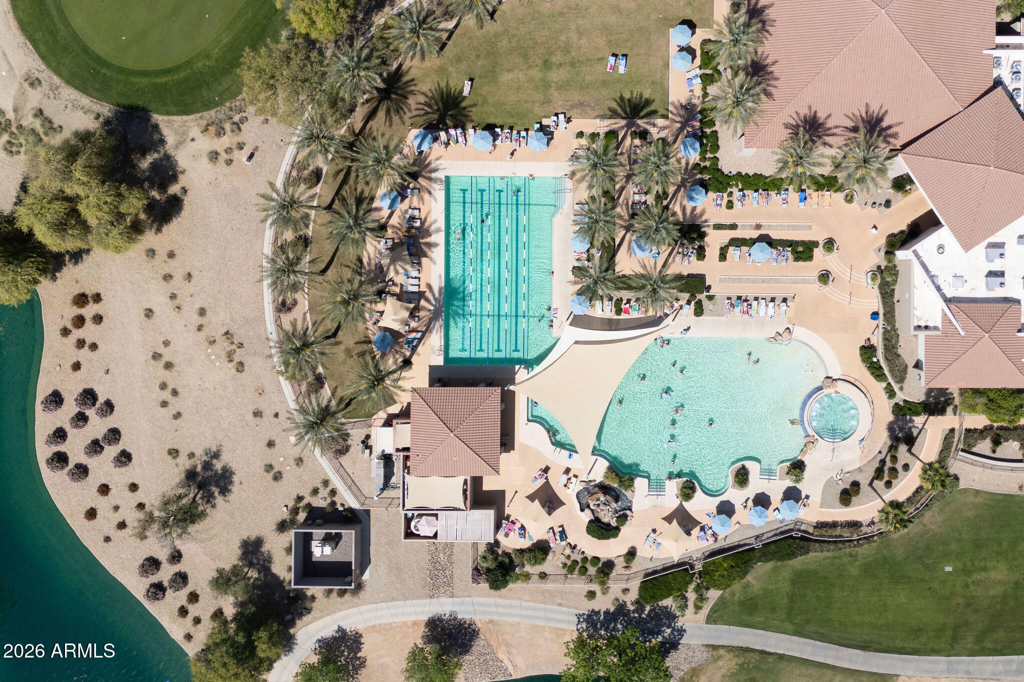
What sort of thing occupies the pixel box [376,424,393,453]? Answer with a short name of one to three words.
shed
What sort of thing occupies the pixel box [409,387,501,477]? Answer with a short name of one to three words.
building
